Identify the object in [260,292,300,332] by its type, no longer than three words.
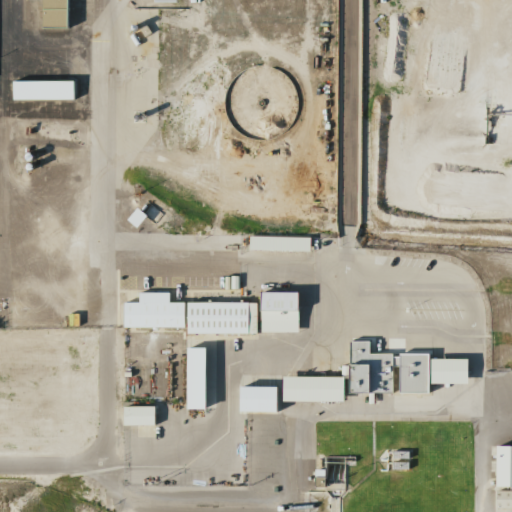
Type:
building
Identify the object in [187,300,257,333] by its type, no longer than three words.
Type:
building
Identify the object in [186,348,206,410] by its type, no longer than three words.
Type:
barn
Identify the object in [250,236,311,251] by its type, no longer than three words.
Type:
shed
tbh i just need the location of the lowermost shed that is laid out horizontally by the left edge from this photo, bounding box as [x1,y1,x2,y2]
[12,80,75,100]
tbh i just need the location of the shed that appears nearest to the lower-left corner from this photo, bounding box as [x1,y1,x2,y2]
[123,407,156,426]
